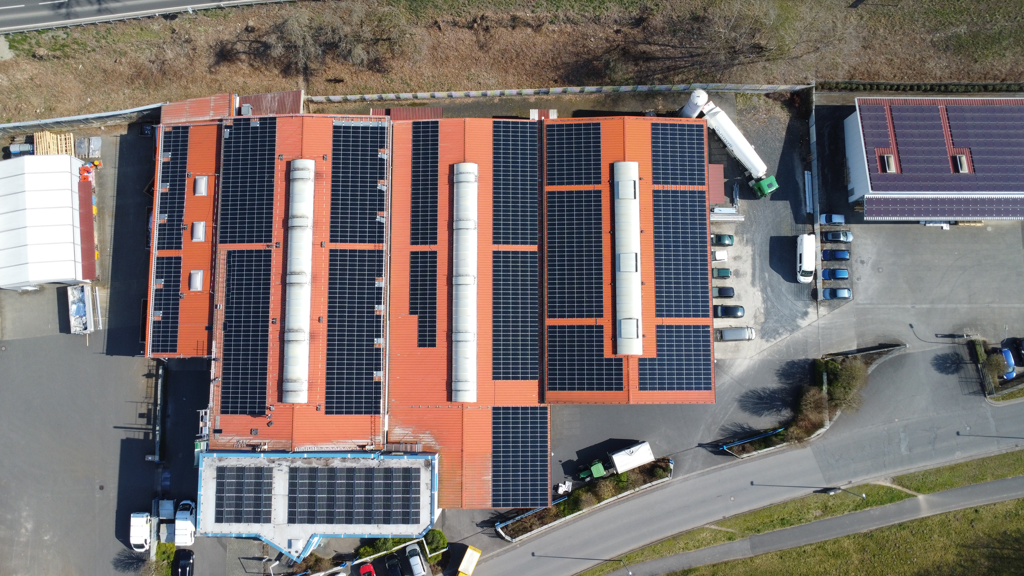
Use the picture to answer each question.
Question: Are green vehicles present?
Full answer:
Yes, you can see a green vehicle in this photo.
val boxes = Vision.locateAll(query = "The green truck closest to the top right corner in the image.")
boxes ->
[742,171,778,199]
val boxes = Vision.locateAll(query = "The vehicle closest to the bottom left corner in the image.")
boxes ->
[130,509,152,552]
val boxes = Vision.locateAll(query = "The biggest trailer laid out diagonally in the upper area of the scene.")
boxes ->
[700,97,768,182]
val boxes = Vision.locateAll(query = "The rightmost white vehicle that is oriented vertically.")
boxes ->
[796,235,816,283]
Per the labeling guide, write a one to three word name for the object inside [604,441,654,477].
trailer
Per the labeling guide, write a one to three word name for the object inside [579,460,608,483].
work vehicle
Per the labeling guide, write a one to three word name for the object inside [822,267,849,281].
car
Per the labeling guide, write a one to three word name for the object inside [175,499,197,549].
vehicle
